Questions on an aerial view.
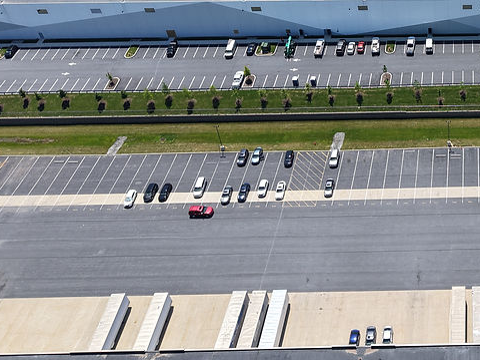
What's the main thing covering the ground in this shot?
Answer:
paved ground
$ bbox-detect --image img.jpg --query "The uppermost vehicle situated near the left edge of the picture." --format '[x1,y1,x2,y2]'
[4,44,20,58]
